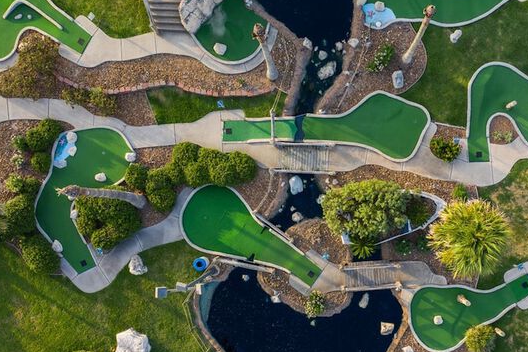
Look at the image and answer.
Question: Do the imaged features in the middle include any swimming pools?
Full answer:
No, looking in the middle, there is no swimming pool.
